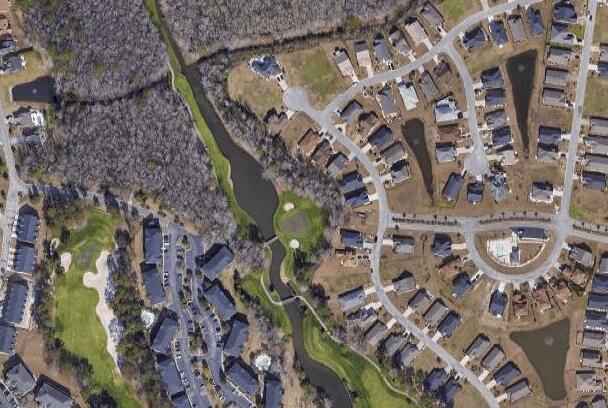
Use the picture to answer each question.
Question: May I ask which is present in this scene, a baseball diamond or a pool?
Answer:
pool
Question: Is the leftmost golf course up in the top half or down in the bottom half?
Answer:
bottom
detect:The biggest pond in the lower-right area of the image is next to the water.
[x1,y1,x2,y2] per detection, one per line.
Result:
[510,316,569,399]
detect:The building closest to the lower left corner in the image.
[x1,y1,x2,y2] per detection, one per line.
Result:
[0,357,41,396]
